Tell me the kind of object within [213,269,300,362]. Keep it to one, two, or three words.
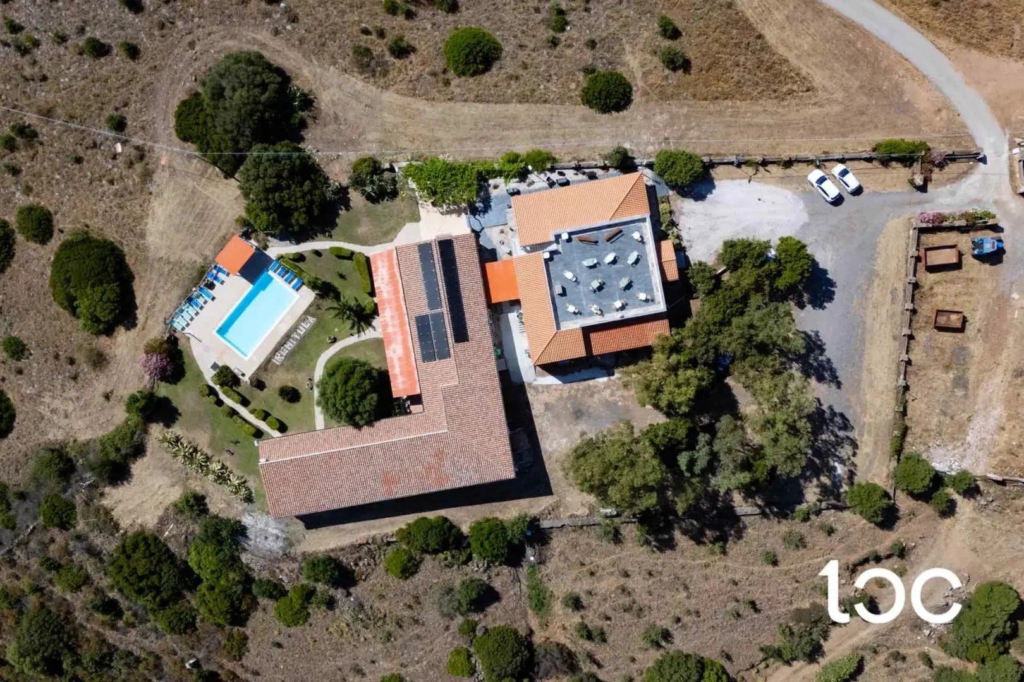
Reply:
swimming pool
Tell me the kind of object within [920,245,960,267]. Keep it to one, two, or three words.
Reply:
trailer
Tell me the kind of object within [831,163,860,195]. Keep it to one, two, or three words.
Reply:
car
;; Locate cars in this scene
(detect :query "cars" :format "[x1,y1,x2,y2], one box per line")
[831,163,860,195]
[807,168,841,205]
